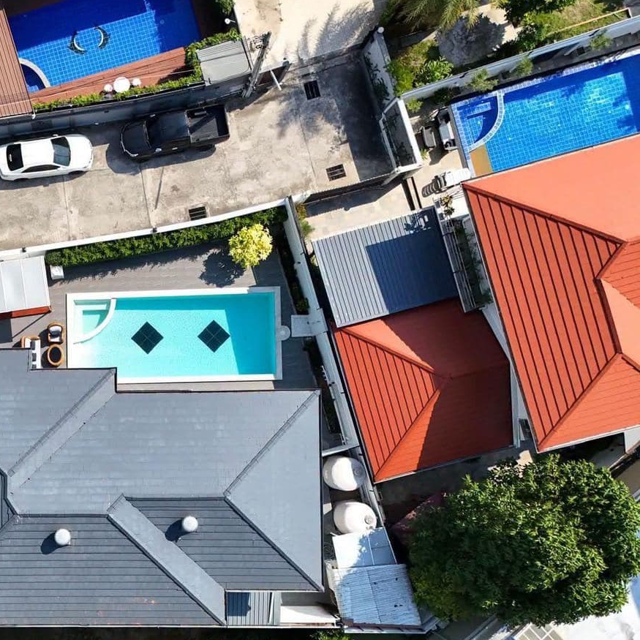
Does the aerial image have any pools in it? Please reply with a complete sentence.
Yes, the picture does show a pool.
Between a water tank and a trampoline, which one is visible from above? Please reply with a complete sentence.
There is a water tank in the scene.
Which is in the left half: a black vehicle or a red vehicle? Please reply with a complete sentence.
The feature located in the left half is a black vehicle.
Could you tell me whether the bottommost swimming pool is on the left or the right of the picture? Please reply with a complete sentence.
The bottommost swimming pool appears in the left half of the scene.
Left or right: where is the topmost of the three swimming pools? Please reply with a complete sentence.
The topmost of the three swimming pools is on the left side of the image.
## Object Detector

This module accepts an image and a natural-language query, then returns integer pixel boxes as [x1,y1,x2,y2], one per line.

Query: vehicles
[0,133,91,184]
[120,106,230,160]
